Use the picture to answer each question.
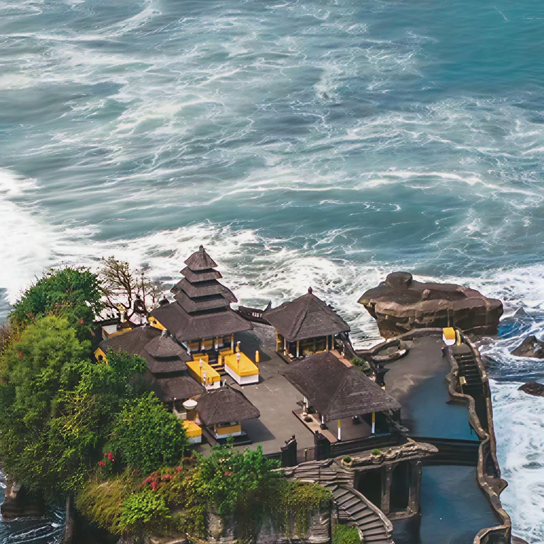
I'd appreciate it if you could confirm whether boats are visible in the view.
No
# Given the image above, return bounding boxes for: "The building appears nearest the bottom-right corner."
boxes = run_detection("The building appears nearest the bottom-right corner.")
[278,349,405,459]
